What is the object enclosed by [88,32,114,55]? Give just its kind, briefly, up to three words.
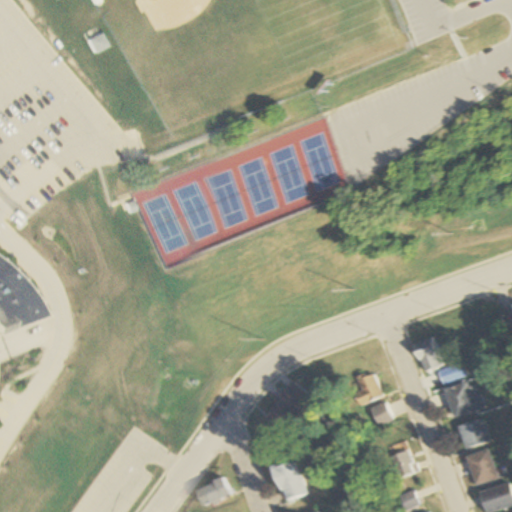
shed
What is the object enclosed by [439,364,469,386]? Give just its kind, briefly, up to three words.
house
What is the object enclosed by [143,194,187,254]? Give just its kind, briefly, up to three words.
tennis court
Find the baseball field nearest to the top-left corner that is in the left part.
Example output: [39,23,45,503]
[136,0,210,32]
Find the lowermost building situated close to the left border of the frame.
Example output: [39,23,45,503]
[0,252,54,333]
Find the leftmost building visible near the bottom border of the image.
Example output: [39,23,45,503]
[198,476,238,506]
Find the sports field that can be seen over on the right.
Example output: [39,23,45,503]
[259,0,404,90]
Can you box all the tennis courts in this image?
[143,194,187,254]
[268,144,312,204]
[300,132,344,192]
[238,157,281,217]
[206,169,250,230]
[174,182,218,242]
